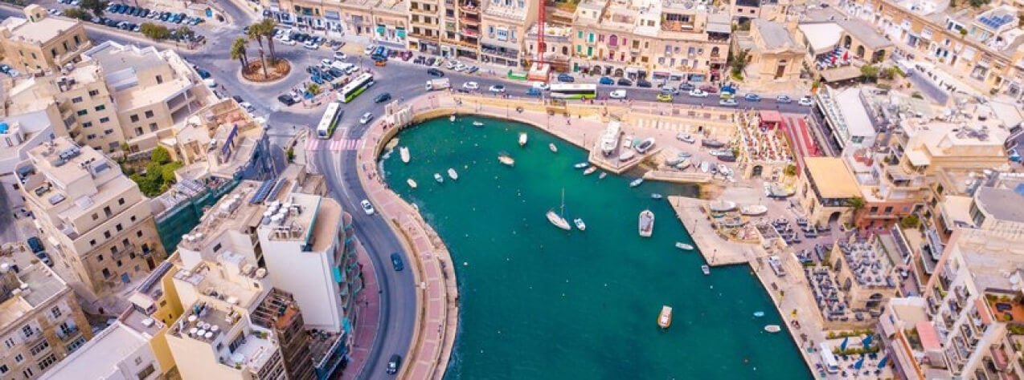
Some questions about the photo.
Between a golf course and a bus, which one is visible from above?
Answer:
bus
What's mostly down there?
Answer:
buildings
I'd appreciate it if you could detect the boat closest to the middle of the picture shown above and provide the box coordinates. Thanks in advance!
[495,153,515,165]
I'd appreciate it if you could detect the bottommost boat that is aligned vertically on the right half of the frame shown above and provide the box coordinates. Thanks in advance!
[658,300,673,332]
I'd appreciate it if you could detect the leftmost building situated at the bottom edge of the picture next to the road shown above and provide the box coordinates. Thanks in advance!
[0,239,90,379]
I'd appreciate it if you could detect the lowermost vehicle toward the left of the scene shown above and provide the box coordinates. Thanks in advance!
[386,352,401,376]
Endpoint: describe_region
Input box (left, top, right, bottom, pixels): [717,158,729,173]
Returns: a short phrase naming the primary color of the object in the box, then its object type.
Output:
white boat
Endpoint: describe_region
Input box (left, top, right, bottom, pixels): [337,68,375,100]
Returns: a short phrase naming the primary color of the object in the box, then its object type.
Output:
white bus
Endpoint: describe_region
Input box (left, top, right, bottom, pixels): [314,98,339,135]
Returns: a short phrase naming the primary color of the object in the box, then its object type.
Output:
white bus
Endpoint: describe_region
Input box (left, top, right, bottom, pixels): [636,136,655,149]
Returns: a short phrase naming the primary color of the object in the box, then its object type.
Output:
white boat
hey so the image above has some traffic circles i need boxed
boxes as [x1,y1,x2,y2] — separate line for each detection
[237,59,294,85]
